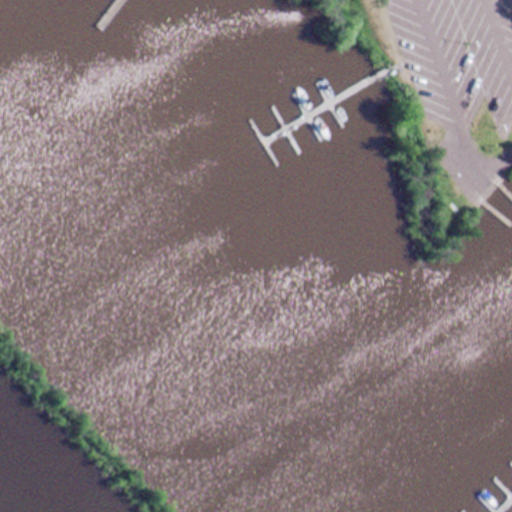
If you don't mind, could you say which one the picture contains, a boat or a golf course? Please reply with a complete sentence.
The one in the frame is a boat.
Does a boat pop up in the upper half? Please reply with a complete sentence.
Yes, a boat shows up in the upper half.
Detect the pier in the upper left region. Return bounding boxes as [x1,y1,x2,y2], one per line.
[97,0,127,31]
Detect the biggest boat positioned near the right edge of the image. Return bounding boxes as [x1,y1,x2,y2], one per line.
[480,486,499,507]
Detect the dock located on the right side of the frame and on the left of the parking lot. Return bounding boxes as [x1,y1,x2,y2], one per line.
[249,70,389,166]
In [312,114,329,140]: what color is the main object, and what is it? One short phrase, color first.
white boat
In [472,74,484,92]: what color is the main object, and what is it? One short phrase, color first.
white vehicle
